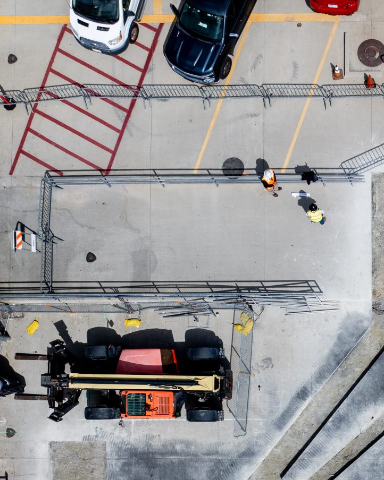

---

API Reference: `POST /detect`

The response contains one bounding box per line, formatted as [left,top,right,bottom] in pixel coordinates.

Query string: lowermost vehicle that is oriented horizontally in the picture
[15,337,236,428]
